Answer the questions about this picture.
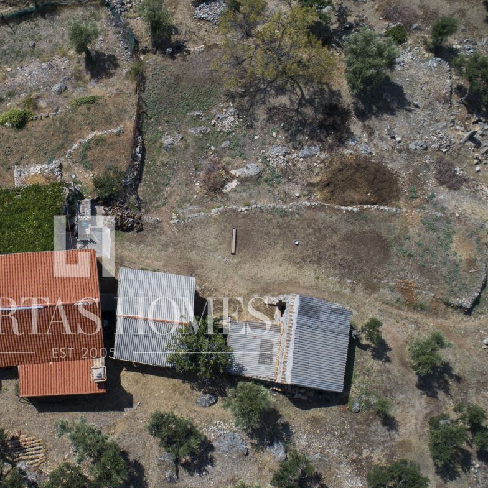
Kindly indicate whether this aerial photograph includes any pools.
No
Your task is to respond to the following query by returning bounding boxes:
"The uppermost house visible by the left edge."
[0,248,106,370]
